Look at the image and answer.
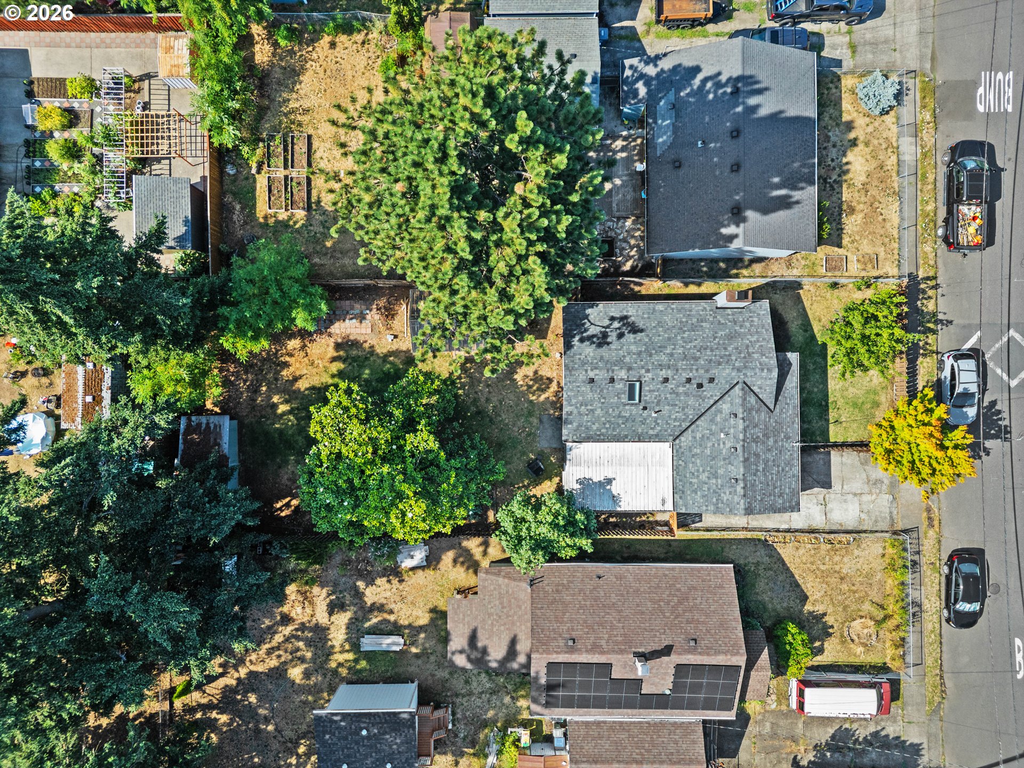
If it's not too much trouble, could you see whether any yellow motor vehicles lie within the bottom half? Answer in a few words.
No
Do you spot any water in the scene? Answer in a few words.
No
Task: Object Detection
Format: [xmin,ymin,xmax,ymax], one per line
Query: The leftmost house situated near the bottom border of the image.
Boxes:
[312,677,420,768]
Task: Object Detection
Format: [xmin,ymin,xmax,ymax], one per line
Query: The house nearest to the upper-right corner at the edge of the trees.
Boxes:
[618,38,820,254]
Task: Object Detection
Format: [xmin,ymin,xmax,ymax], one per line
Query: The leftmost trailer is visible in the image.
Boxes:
[654,0,733,32]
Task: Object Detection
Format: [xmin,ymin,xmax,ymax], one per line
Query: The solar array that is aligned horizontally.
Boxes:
[545,663,740,709]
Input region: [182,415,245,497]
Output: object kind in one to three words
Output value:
shed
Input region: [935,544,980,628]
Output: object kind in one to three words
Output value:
car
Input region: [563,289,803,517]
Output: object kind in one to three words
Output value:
house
